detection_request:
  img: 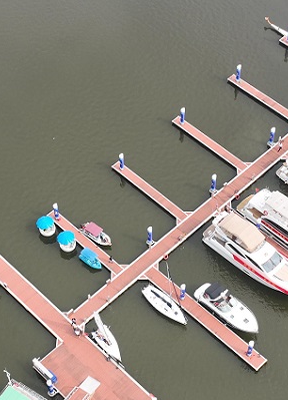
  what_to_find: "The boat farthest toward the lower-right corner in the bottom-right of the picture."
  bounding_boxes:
[195,282,259,334]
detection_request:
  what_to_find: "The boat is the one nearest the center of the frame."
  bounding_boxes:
[80,220,109,247]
